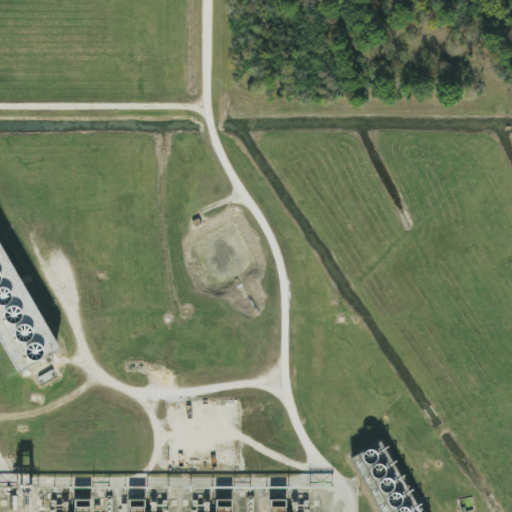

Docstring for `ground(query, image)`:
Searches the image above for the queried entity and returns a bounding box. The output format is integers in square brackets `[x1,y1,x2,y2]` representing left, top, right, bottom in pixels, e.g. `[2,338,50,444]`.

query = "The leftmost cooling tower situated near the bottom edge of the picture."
[350,438,424,512]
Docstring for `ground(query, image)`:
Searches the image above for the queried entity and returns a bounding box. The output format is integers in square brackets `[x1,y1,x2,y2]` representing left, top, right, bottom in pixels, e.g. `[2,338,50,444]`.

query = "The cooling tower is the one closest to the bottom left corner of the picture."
[0,240,62,372]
